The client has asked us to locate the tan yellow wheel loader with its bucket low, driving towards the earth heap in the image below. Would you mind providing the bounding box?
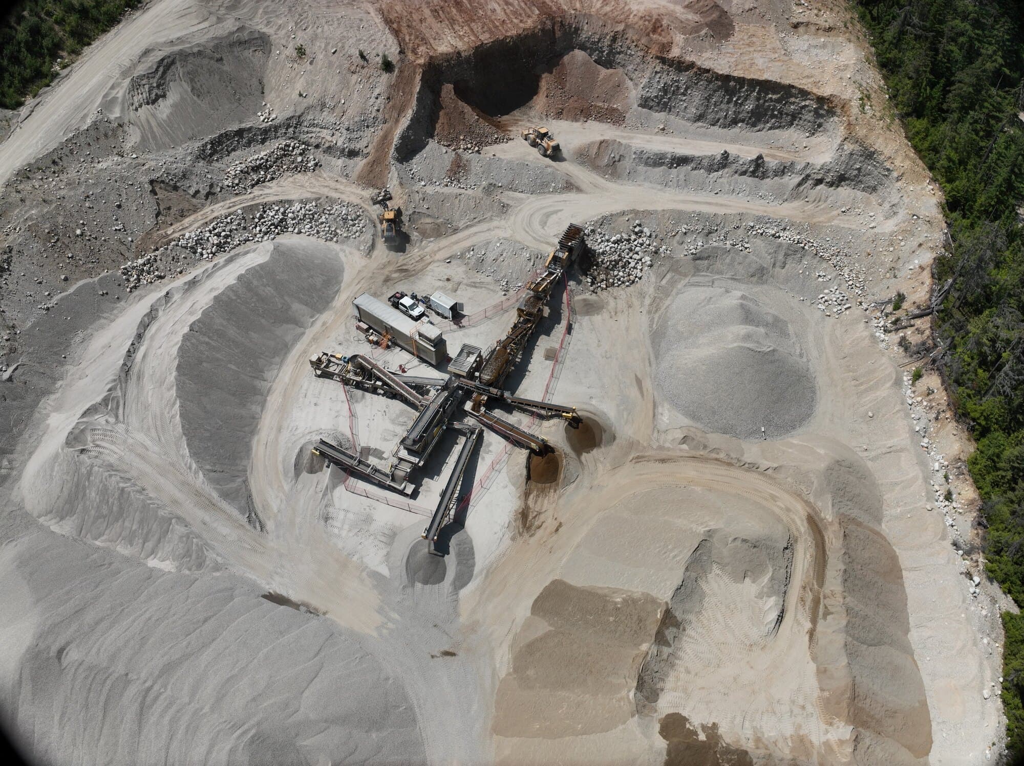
[516,130,562,157]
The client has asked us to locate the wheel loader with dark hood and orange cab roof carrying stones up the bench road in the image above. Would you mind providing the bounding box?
[369,200,402,245]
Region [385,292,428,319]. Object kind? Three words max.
truck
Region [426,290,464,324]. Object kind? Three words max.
trailer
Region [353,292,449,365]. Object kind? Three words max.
trailer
